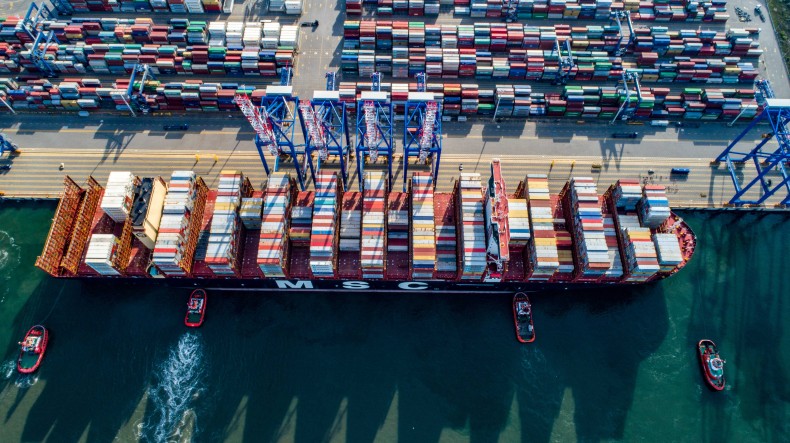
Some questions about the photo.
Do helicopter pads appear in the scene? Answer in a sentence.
No, the frame has no helicopter pad in it.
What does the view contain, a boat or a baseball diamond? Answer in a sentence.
Of the two, only a boat appears.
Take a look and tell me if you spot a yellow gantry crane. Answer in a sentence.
No, the frame has no yellow gantry crane in it.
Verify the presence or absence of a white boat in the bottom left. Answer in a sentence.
No, looking in the bottom left, there is no white boat.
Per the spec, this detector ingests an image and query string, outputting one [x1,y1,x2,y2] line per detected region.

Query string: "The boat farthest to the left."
[17,324,46,374]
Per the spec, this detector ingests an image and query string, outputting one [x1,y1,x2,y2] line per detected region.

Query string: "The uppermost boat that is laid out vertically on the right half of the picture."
[513,293,535,343]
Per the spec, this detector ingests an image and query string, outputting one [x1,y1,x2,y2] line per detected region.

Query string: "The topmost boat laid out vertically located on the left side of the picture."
[184,289,204,329]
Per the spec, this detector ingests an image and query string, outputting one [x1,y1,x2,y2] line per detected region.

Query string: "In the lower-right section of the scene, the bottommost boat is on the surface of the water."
[694,340,725,391]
